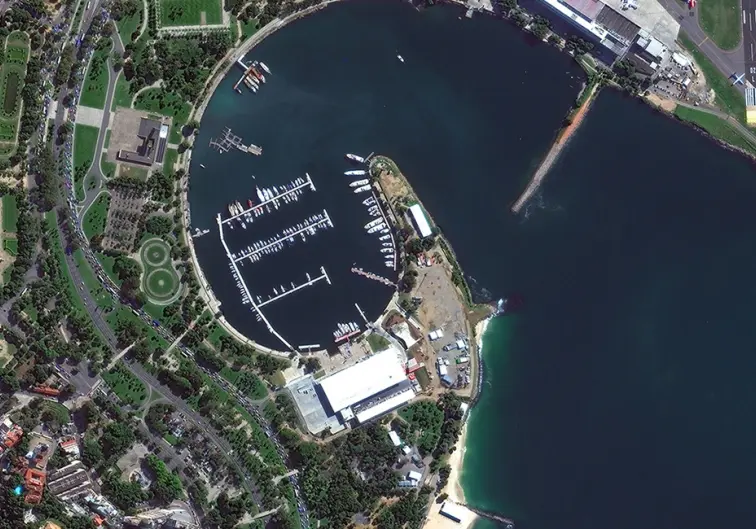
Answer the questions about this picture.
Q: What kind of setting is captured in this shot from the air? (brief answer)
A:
port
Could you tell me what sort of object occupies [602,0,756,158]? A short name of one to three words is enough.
airport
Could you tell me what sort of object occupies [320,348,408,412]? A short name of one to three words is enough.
building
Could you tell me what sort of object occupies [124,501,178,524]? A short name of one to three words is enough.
house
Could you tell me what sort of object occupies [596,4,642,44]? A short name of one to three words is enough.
hangar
